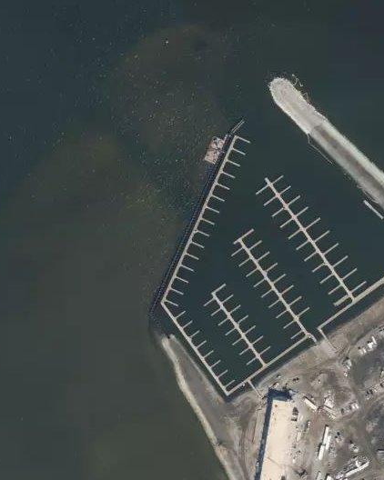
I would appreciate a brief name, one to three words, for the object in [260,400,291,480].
building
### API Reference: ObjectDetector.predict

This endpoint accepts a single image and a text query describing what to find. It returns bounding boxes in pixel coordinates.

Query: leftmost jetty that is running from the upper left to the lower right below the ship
[161,303,235,396]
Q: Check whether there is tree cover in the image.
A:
No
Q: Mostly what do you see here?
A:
water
